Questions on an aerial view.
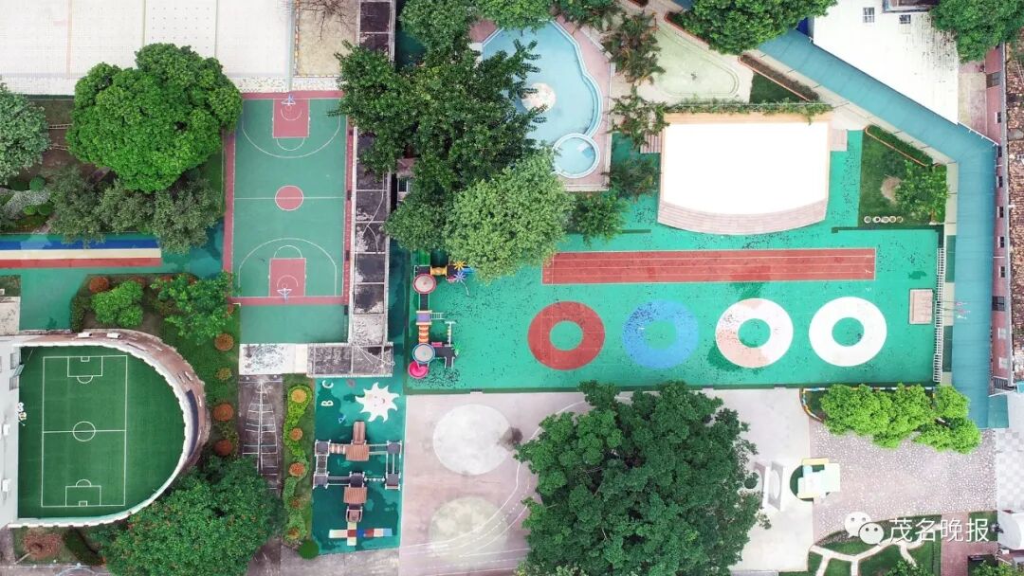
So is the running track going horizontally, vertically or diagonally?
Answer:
horizontally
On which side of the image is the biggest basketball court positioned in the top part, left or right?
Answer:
left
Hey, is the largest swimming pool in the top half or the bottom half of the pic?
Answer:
top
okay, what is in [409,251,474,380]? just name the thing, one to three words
playground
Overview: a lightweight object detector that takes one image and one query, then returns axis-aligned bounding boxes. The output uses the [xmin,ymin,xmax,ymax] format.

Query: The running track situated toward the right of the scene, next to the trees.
[543,247,876,285]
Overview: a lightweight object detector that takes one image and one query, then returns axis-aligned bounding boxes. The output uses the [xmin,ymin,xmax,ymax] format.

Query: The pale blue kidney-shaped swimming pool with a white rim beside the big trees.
[480,18,603,164]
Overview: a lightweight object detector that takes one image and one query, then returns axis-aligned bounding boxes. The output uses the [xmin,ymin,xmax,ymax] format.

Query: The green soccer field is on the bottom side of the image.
[41,356,127,507]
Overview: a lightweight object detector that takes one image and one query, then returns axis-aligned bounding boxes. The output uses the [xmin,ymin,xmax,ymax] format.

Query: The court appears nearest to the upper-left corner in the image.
[222,92,353,344]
